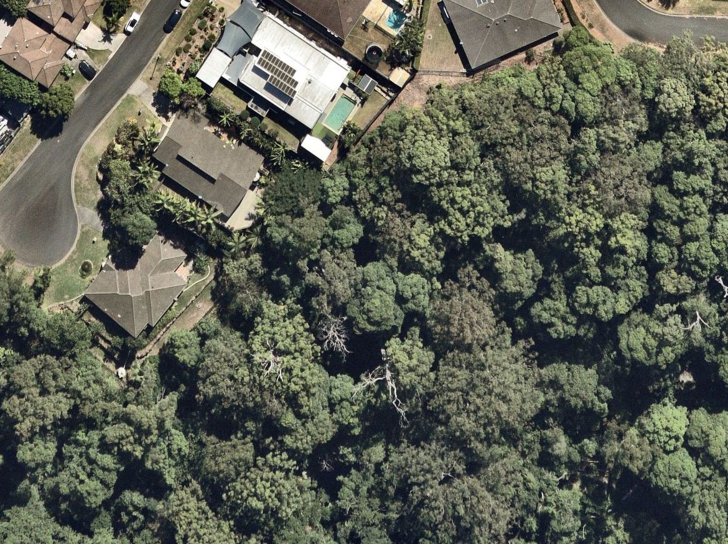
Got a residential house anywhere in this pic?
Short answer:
Yes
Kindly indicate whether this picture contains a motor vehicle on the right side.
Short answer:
No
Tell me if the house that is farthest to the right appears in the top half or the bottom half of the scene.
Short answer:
top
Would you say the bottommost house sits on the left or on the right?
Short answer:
left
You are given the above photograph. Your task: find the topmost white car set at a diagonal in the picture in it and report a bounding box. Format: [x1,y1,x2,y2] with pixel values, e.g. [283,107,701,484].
[123,12,141,34]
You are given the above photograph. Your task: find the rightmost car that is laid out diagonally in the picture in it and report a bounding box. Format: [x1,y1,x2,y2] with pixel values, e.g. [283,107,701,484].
[162,8,183,33]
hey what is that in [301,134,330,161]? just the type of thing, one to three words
shed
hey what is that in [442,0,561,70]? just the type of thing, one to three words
house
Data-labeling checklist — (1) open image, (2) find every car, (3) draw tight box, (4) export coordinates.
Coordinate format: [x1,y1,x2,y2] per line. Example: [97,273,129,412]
[123,12,141,34]
[178,0,191,7]
[162,8,183,33]
[76,58,98,83]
